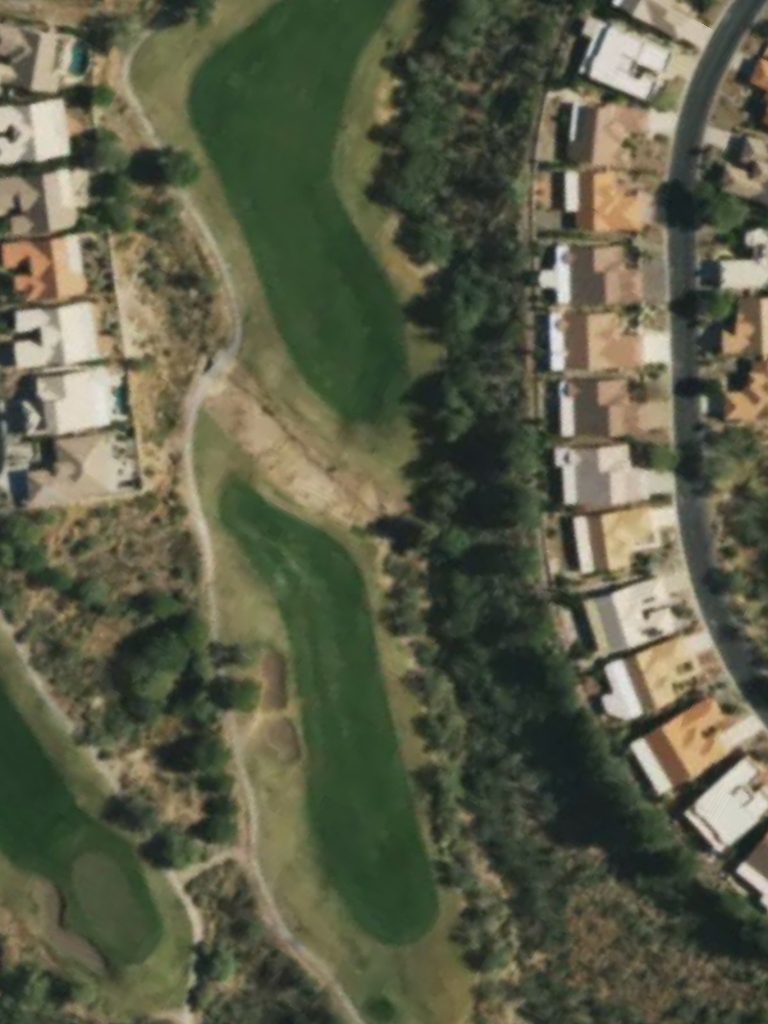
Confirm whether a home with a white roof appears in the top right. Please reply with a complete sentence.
Yes, in the top right there is a home with a white roof.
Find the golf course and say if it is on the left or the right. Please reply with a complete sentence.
The golf course is on the left side of the image.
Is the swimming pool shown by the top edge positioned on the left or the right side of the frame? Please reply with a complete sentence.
The swimming pool shown by the top edge appears in the left half of the scene.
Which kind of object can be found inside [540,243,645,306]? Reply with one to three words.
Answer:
house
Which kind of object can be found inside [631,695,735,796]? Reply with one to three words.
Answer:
house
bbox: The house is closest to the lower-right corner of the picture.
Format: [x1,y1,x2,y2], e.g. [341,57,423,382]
[737,835,768,898]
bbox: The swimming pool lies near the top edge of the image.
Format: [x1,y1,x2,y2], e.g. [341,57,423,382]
[69,42,89,76]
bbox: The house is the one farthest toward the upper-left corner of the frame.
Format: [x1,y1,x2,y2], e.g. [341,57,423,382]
[0,20,66,92]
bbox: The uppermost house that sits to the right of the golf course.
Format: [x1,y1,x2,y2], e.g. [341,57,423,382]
[614,0,690,35]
